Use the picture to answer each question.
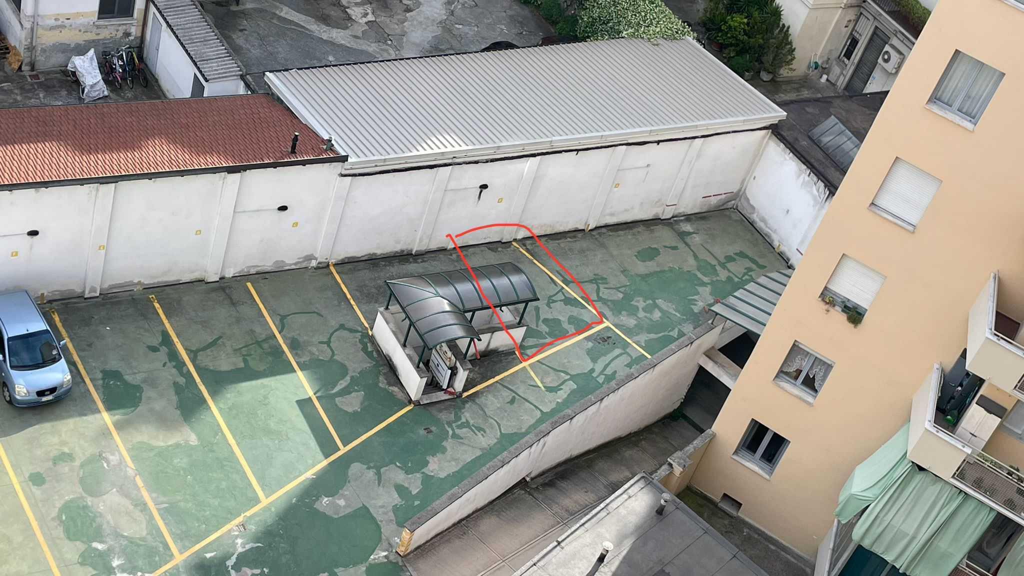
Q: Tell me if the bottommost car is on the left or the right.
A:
left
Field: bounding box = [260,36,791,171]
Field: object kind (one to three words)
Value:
shed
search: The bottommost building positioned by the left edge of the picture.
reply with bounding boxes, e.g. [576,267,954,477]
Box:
[0,91,349,196]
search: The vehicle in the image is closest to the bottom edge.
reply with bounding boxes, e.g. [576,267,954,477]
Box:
[0,294,70,406]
